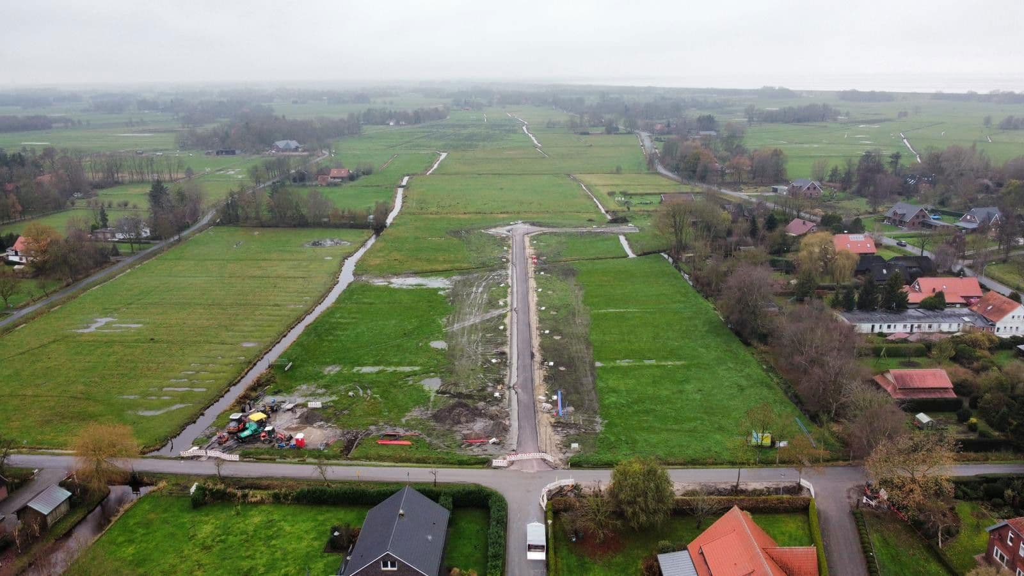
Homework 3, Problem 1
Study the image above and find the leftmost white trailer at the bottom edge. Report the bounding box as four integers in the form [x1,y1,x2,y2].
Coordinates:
[526,518,547,558]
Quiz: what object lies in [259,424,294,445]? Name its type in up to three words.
work vehicle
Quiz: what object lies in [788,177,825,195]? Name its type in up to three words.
house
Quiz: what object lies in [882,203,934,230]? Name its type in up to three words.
house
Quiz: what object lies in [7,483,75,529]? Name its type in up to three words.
shed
